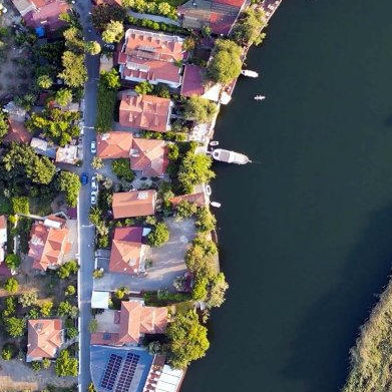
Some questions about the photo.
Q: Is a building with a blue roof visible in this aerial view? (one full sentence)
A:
Yes, I can see a building with a blue roof in this picture.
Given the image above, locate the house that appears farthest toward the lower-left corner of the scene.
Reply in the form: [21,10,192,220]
[27,317,68,358]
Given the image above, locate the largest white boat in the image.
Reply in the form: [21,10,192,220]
[210,147,251,163]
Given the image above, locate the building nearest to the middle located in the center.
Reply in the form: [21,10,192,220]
[169,193,205,210]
